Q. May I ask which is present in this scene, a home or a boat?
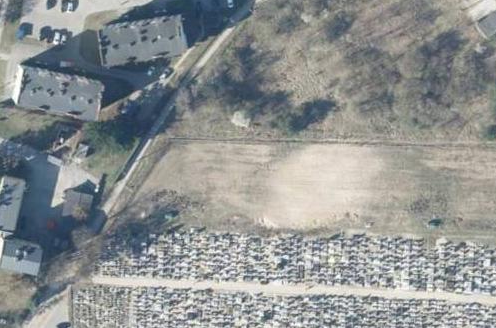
home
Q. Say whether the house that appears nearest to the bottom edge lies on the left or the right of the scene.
left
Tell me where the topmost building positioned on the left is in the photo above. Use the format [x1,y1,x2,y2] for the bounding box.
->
[92,14,187,66]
